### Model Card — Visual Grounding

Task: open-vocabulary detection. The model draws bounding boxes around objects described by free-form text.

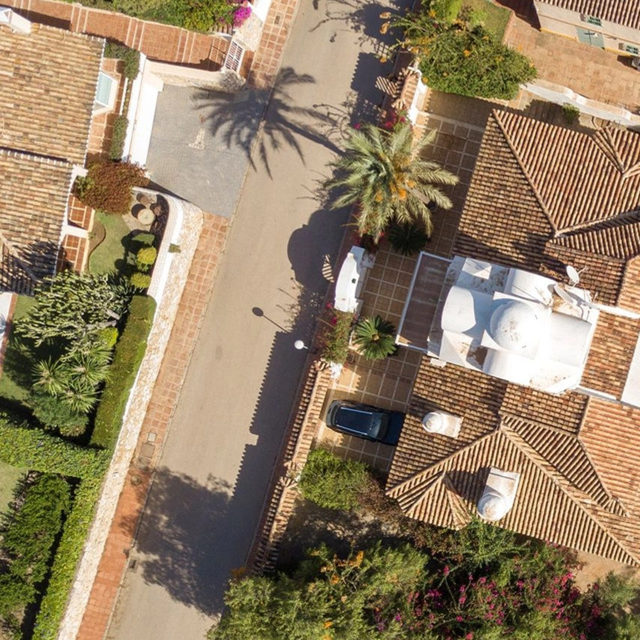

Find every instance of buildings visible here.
[384,109,640,567]
[537,0,640,59]
[0,5,131,294]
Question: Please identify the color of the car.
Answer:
black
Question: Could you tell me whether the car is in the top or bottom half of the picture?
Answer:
bottom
